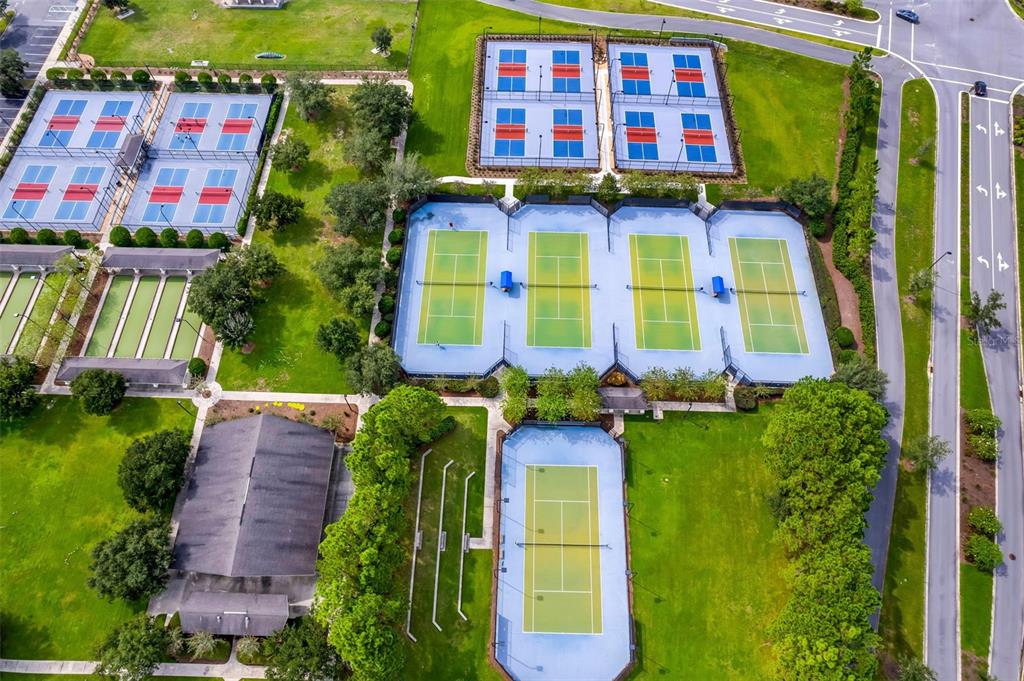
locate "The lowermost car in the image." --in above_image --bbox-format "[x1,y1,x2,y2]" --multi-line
[976,80,991,98]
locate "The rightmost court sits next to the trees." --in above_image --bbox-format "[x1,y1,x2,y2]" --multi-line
[706,210,835,382]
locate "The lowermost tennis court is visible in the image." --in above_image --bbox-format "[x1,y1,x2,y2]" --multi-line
[496,426,630,681]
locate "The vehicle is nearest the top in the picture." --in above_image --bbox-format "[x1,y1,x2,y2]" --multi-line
[897,9,921,22]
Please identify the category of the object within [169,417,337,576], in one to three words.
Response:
building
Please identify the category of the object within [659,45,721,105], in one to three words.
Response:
sports court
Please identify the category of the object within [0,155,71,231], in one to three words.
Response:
sports court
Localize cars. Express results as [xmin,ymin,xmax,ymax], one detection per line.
[897,9,921,22]
[976,80,991,98]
